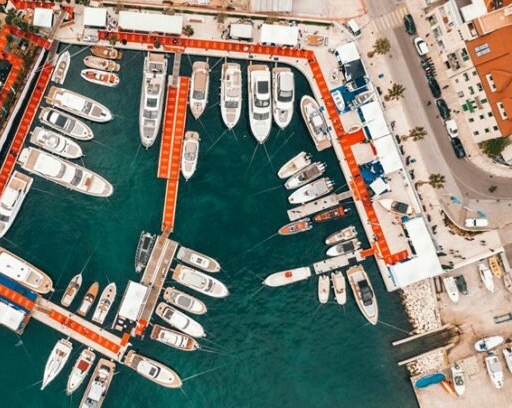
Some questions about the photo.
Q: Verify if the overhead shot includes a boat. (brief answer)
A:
Yes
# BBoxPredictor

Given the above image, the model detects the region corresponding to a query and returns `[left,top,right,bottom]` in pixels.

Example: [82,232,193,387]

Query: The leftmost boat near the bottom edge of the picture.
[34,333,71,394]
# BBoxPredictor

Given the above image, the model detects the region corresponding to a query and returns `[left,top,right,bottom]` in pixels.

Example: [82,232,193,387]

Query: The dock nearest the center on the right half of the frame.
[287,196,341,222]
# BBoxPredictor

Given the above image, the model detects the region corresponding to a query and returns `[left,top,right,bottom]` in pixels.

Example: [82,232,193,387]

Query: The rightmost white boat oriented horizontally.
[472,336,505,351]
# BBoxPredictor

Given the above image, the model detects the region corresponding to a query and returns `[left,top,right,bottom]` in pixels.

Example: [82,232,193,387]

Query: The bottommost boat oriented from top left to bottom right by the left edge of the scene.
[0,250,53,301]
